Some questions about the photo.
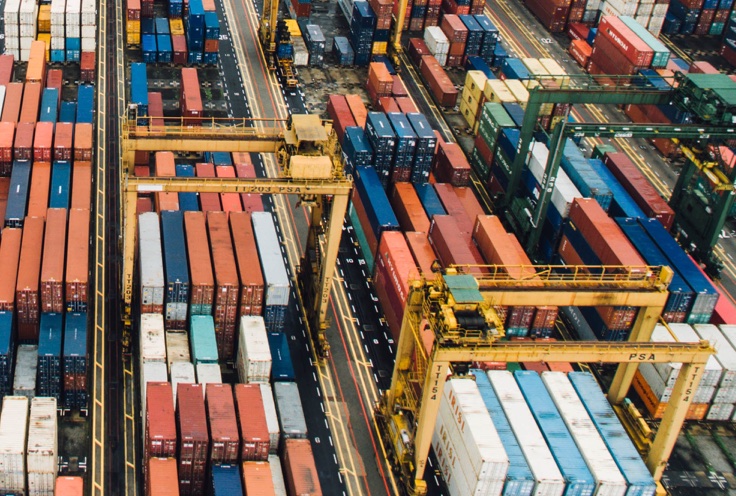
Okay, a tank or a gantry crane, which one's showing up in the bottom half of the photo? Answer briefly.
gantry crane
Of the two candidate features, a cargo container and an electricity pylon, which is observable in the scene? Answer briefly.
cargo container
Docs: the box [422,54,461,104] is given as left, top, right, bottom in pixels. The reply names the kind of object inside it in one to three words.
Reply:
shipping container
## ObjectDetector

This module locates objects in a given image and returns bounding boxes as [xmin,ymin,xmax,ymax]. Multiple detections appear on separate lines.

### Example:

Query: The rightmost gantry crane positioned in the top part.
[496,65,736,275]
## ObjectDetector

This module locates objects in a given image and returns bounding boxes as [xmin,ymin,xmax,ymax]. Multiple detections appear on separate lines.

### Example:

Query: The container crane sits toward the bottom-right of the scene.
[378,262,720,496]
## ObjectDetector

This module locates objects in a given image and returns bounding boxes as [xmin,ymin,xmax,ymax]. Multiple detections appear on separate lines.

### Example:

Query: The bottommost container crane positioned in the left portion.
[114,113,358,367]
